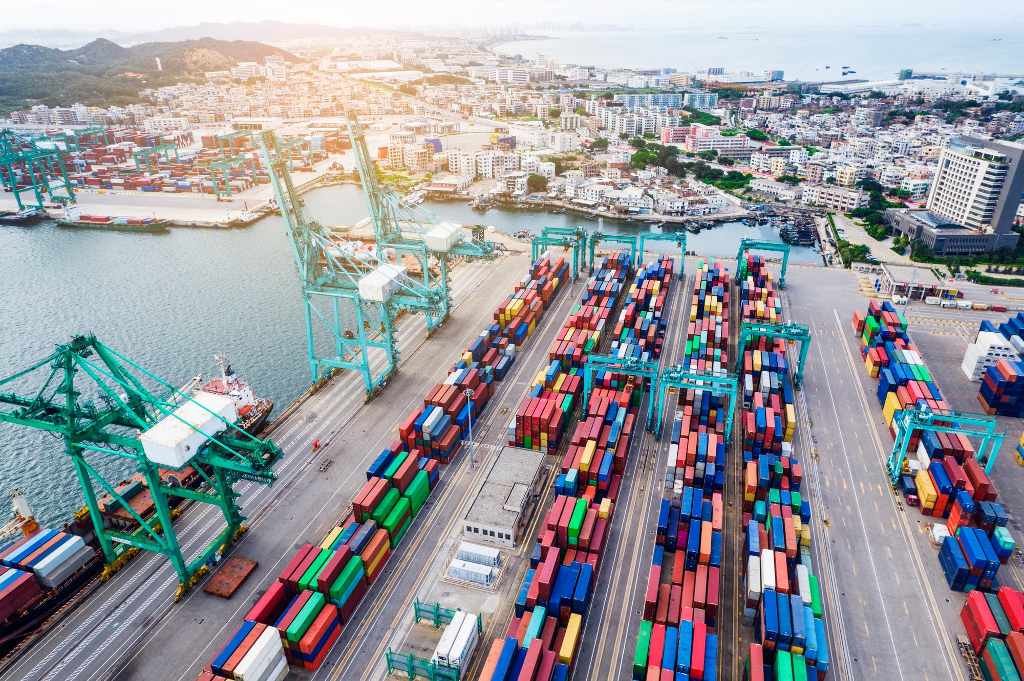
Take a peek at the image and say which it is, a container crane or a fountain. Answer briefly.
container crane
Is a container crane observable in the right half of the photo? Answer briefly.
Yes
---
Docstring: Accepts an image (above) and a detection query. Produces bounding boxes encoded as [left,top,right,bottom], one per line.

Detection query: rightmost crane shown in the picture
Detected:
[883,403,1002,488]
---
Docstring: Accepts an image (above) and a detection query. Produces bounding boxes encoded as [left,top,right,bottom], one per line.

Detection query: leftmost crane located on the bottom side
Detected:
[0,317,284,603]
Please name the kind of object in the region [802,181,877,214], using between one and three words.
building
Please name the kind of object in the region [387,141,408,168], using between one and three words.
building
